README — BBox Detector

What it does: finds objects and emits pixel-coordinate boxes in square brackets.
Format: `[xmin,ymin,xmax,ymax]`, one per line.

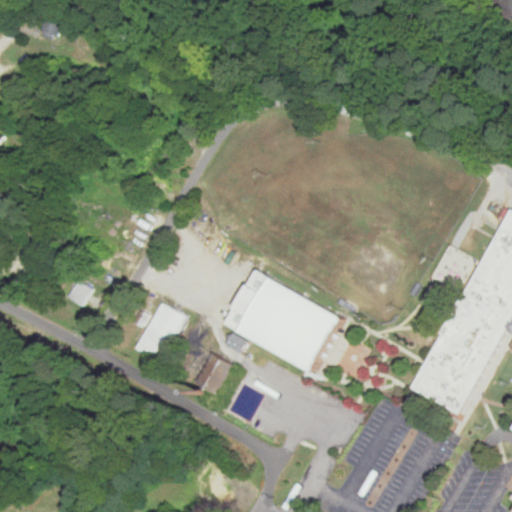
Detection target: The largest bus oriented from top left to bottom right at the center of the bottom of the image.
[252,378,280,400]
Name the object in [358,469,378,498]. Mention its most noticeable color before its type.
white bus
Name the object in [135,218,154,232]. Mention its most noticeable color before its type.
white vehicle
